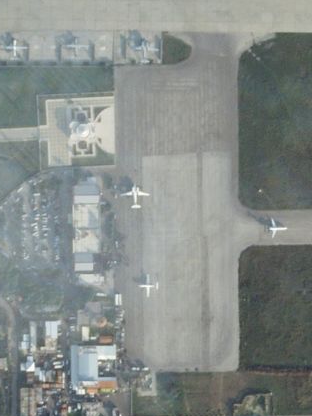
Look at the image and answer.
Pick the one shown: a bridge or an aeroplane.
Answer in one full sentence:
It is an aeroplane that can be seen here.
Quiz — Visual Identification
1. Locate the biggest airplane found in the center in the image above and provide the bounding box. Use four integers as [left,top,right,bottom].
[121,184,149,208]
